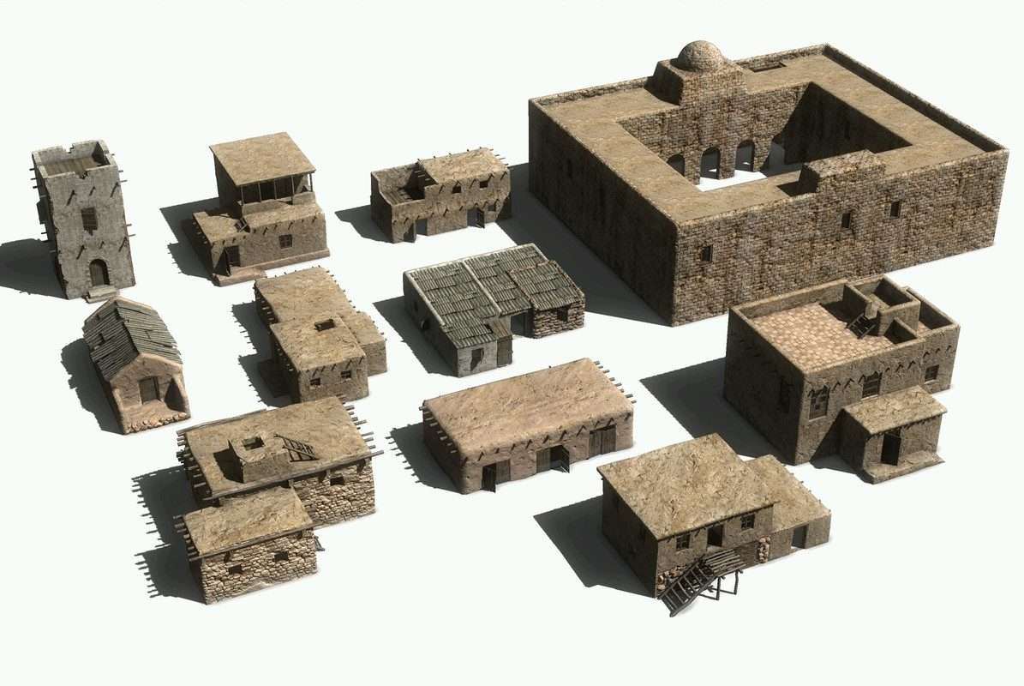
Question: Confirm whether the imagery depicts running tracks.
No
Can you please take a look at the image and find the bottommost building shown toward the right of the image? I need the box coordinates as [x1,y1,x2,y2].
[598,434,832,597]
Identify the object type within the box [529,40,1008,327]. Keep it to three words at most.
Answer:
building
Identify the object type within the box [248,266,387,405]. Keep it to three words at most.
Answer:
house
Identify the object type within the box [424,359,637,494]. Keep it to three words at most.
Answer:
barn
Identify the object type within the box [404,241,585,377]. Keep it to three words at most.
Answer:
house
